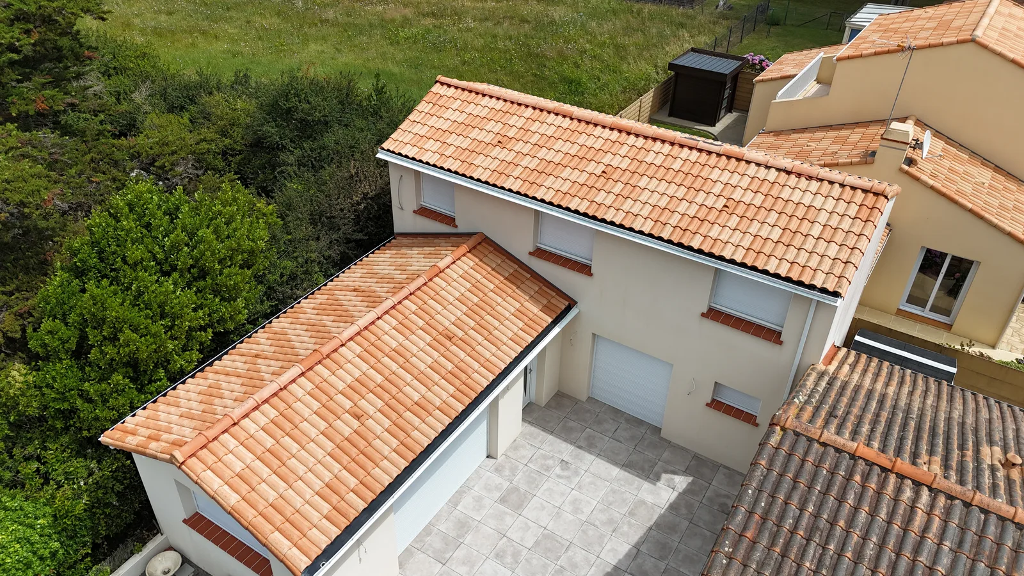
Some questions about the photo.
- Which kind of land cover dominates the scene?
buildings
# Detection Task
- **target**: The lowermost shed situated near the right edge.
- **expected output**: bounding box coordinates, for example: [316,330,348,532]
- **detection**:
[703,346,1024,576]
